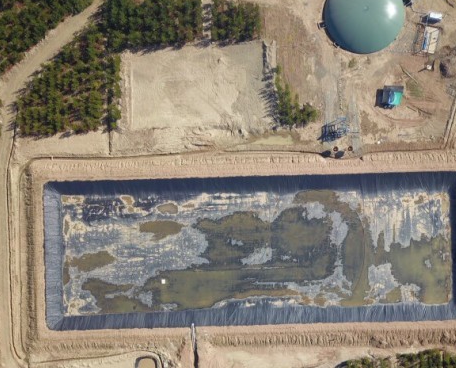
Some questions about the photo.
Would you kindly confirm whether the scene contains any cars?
No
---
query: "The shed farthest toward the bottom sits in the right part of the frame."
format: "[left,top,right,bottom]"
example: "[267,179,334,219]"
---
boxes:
[385,85,404,107]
